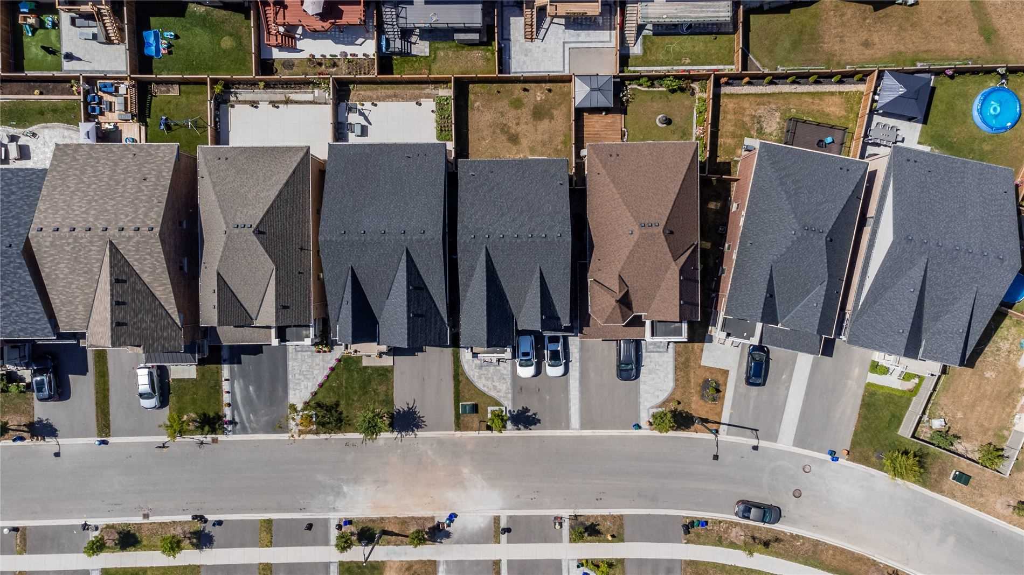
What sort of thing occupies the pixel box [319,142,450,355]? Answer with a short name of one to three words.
house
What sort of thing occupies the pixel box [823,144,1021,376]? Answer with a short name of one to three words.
house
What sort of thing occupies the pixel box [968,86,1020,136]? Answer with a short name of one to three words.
swimming pool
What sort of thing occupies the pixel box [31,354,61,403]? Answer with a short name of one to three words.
car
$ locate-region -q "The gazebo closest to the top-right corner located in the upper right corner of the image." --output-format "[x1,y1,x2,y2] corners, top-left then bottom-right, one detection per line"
[869,71,932,122]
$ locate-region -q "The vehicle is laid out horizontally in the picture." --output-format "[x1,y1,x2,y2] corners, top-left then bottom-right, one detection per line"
[733,498,781,526]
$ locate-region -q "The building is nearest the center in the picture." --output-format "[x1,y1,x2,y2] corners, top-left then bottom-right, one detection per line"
[457,158,575,363]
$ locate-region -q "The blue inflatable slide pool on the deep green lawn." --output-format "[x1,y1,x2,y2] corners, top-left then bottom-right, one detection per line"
[141,27,164,59]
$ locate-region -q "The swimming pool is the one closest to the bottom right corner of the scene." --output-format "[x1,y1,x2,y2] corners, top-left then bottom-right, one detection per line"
[1001,272,1024,305]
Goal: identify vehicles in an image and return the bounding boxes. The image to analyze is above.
[733,498,781,526]
[745,343,769,387]
[544,334,566,377]
[616,340,639,381]
[515,334,537,377]
[136,365,162,409]
[31,354,61,403]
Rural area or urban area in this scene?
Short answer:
urban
